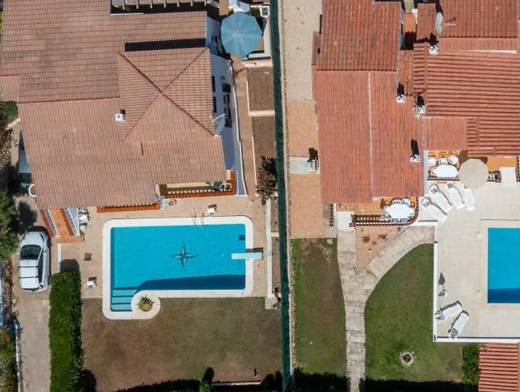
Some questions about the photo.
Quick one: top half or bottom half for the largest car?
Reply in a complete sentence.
The largest car sits in the bottom half of the picture.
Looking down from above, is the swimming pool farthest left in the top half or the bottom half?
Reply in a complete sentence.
You can find the swimming pool farthest left in the bottom half.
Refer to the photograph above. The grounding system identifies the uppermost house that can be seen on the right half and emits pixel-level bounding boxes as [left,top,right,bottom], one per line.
[311,0,520,231]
